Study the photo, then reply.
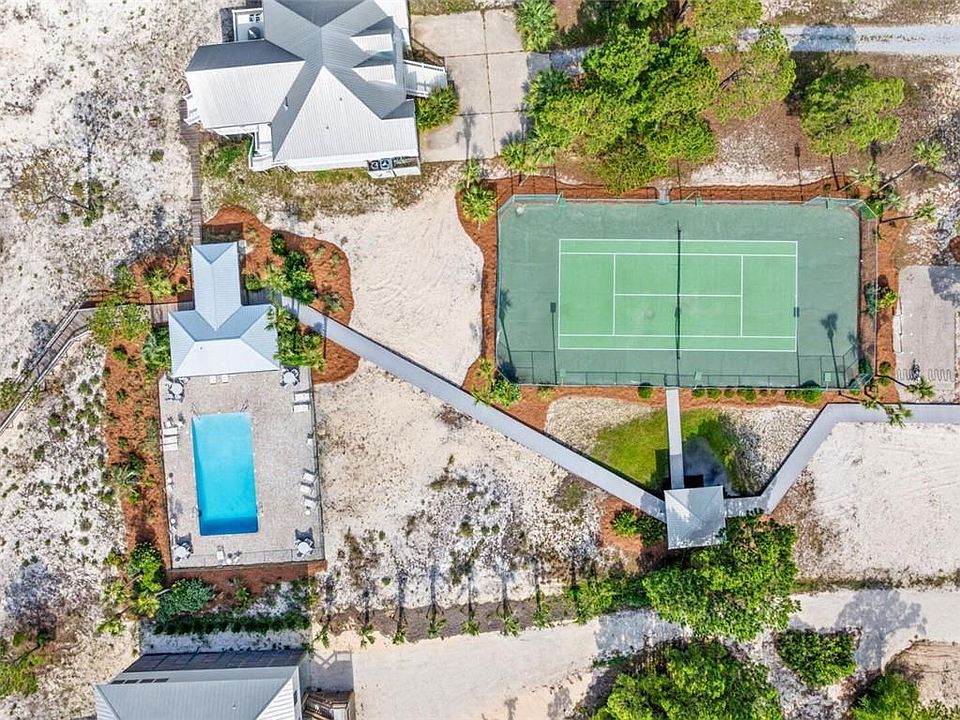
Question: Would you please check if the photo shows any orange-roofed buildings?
No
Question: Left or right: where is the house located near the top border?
left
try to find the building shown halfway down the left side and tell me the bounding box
[168,242,283,377]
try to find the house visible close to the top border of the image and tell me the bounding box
[180,0,442,174]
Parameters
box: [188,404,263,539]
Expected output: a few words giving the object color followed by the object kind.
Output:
blue swimming pool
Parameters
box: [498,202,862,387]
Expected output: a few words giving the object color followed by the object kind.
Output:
green tennis court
